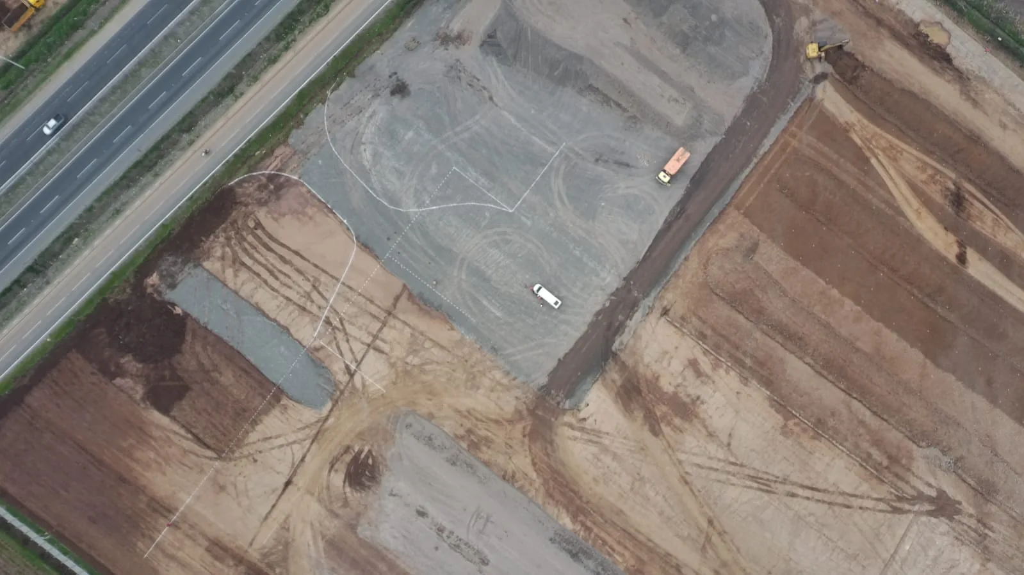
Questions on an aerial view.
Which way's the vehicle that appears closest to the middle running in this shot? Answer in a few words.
diagonally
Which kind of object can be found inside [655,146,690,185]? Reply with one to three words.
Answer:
truck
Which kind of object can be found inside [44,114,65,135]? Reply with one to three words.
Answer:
truck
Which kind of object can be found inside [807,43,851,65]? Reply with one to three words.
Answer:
work vehicle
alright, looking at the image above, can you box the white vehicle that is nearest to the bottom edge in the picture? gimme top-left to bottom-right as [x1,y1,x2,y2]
[533,285,562,309]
